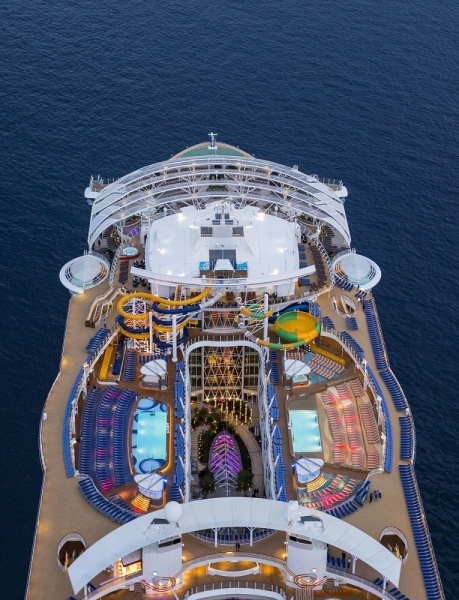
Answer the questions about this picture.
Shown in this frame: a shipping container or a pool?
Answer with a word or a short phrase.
pool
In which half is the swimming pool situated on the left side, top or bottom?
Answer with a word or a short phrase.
bottom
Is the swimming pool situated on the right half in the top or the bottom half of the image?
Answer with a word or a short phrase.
bottom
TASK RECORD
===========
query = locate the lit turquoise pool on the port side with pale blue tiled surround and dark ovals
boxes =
[128,395,173,474]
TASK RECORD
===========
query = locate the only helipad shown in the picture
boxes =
[158,145,261,172]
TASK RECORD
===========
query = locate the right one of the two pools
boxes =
[282,390,327,460]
